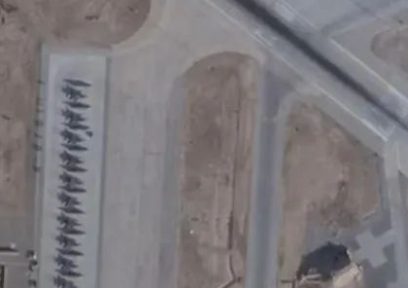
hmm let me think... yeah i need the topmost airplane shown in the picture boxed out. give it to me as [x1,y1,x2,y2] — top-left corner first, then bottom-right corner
[67,87,88,99]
